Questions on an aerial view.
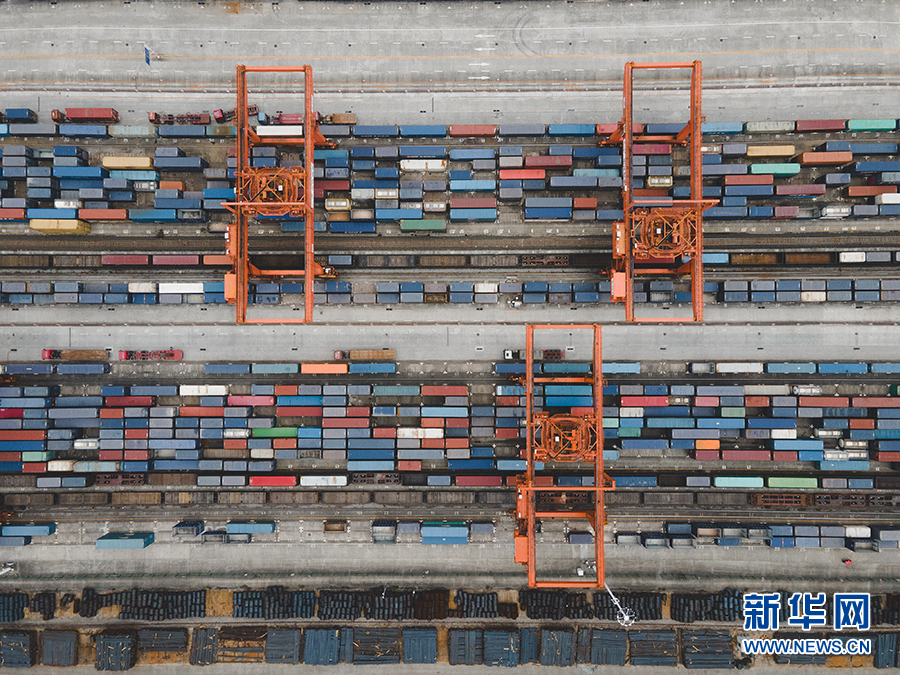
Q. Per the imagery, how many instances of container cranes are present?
three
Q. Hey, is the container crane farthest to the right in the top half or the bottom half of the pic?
top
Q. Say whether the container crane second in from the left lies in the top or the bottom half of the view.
bottom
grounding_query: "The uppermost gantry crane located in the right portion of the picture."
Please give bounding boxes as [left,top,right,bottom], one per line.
[595,62,720,322]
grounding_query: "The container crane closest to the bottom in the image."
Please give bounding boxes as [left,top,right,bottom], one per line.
[506,325,613,588]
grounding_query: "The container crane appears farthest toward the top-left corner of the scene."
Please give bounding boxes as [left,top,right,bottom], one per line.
[215,65,345,323]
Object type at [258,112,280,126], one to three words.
vehicle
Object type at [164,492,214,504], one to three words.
rail car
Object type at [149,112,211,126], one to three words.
vehicle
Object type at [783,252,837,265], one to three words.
rail car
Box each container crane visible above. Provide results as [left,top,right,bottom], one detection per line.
[506,325,613,588]
[595,62,720,322]
[215,65,345,323]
